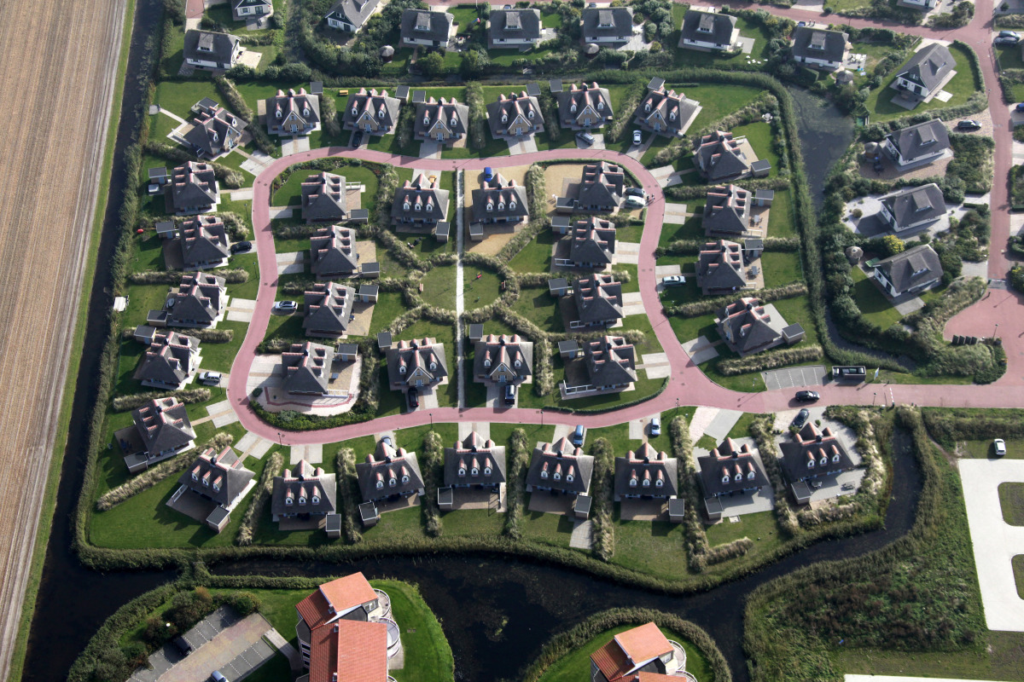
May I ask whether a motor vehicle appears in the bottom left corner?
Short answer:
Yes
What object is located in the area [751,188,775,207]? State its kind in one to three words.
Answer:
shed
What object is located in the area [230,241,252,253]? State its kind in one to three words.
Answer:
vehicle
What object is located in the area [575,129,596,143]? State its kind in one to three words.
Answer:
car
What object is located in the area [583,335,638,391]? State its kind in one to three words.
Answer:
house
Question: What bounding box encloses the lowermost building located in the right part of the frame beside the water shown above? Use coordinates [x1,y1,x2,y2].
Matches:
[589,622,697,682]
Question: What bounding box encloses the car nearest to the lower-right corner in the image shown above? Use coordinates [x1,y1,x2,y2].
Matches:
[993,438,1008,458]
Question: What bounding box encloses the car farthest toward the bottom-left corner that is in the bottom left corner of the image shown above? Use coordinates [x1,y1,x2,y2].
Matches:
[170,634,195,658]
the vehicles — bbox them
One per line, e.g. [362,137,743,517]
[230,241,252,253]
[209,671,227,682]
[425,174,441,183]
[352,129,361,147]
[275,299,298,310]
[573,425,584,446]
[959,119,980,129]
[999,29,1020,39]
[407,389,418,408]
[198,370,222,383]
[503,0,512,9]
[483,166,493,181]
[504,386,515,405]
[170,634,195,658]
[795,390,819,402]
[993,438,1008,458]
[792,409,807,429]
[1014,102,1024,111]
[995,35,1016,45]
[575,129,596,143]
[651,418,662,436]
[632,131,641,144]
[797,18,806,29]
[380,431,395,449]
[626,187,644,196]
